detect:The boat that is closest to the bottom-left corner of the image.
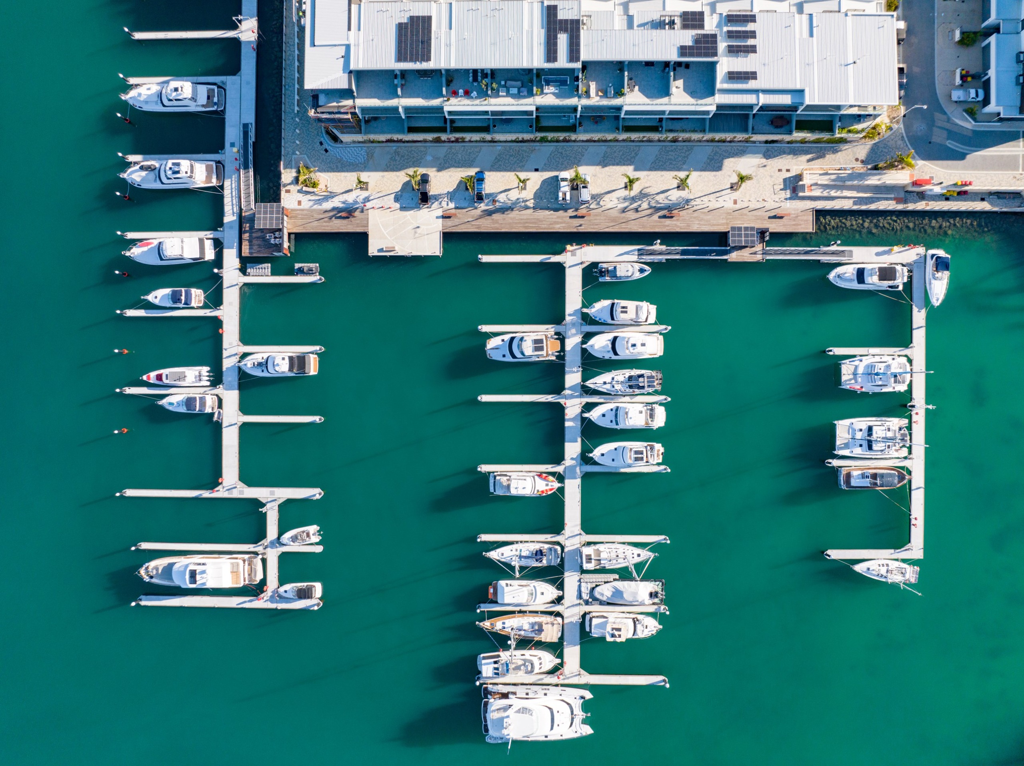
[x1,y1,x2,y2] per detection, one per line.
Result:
[133,555,265,592]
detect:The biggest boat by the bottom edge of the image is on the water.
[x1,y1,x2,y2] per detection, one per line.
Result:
[482,682,594,750]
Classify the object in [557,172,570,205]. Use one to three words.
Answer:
vehicle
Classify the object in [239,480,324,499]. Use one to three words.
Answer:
pier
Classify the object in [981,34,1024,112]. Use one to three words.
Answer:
house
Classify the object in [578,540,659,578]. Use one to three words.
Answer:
boat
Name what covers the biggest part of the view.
water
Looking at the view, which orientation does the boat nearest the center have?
from side to side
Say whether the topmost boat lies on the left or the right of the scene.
left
